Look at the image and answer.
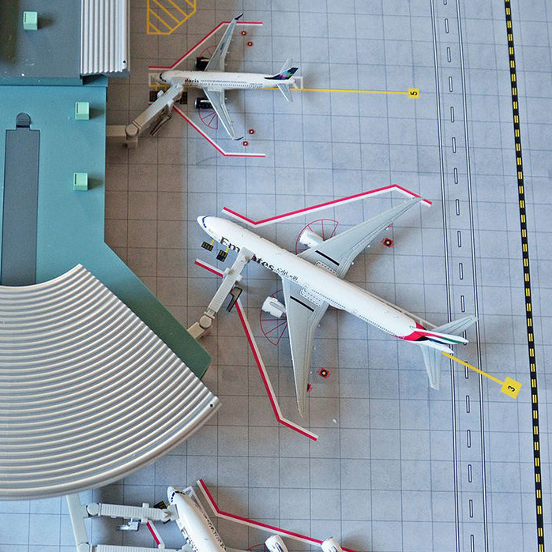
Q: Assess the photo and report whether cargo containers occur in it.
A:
No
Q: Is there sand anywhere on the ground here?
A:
No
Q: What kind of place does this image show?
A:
airport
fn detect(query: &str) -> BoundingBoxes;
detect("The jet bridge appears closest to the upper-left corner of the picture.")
[107,72,185,154]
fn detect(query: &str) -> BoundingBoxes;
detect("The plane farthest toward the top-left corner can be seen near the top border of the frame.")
[159,14,298,141]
